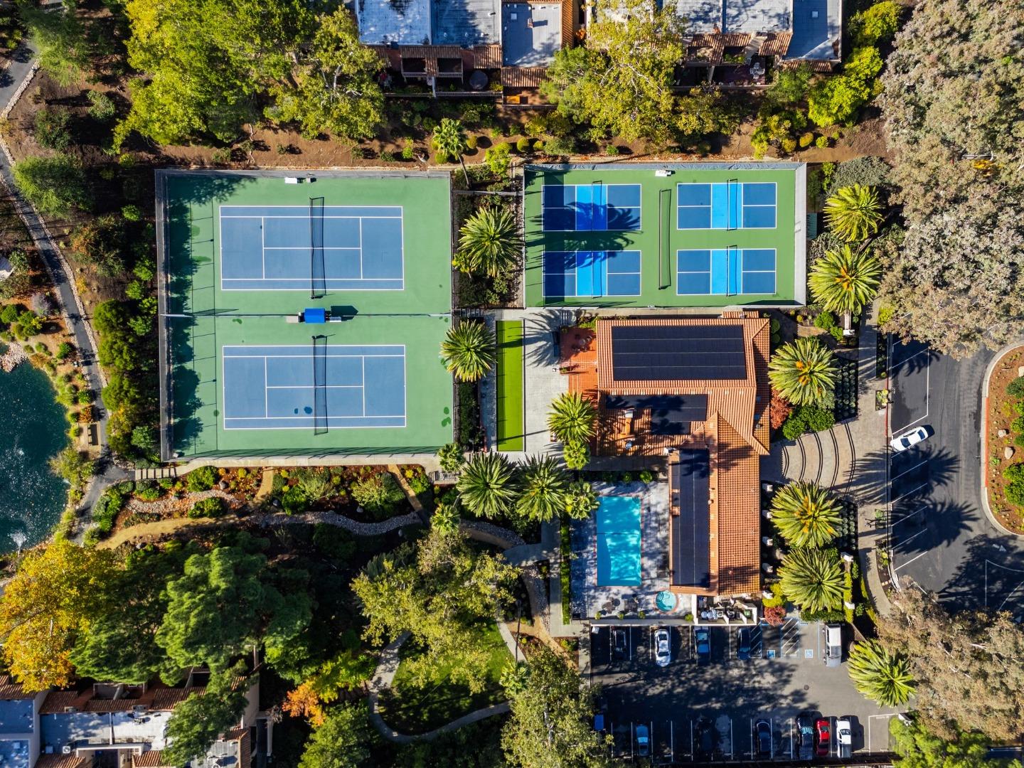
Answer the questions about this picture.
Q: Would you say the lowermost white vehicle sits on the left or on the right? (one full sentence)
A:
It is on the right.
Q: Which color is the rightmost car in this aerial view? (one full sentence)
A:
In this view, the rightmost car is white.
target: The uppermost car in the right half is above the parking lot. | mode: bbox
[887,425,930,450]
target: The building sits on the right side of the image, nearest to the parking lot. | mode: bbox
[596,311,771,601]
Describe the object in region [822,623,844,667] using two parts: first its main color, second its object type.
white vehicle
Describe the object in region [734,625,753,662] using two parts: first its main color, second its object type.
black car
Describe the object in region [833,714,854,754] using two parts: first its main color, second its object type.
white vehicle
